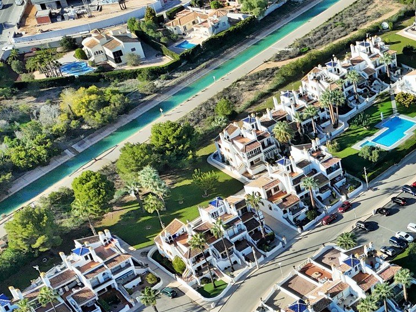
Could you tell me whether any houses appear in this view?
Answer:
Yes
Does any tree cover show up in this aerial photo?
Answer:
Yes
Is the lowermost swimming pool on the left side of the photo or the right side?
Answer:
right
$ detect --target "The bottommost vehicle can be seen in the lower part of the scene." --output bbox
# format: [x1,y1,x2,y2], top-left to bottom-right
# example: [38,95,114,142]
[158,283,177,297]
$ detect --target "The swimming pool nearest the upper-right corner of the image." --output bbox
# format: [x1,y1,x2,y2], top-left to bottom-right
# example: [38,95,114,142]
[354,114,416,150]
